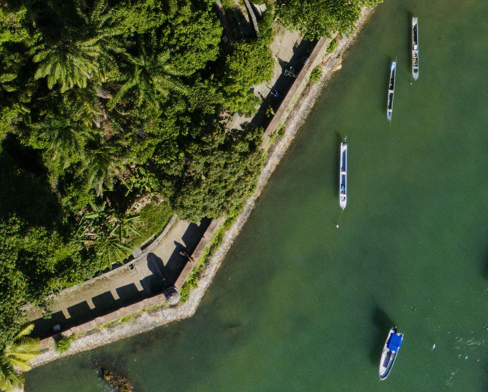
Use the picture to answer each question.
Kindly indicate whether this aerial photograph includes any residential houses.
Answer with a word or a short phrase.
No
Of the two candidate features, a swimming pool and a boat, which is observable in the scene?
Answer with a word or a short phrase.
boat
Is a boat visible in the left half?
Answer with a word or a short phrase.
No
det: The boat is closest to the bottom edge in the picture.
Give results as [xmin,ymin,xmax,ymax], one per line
[377,327,406,381]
